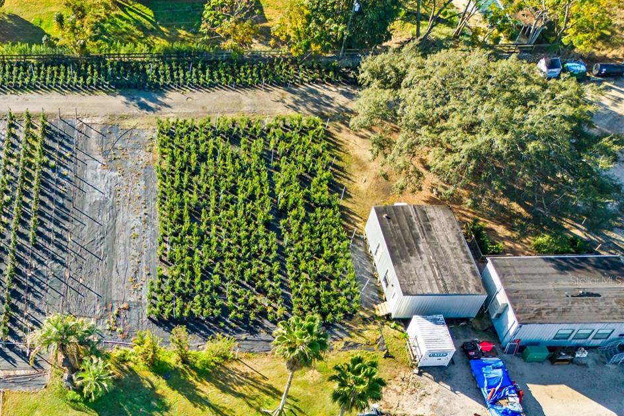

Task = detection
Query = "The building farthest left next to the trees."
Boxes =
[363,202,492,316]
